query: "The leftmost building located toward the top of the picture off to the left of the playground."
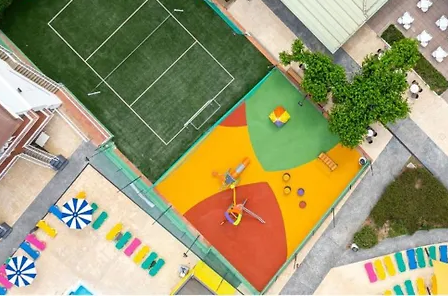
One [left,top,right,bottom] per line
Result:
[0,57,65,178]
